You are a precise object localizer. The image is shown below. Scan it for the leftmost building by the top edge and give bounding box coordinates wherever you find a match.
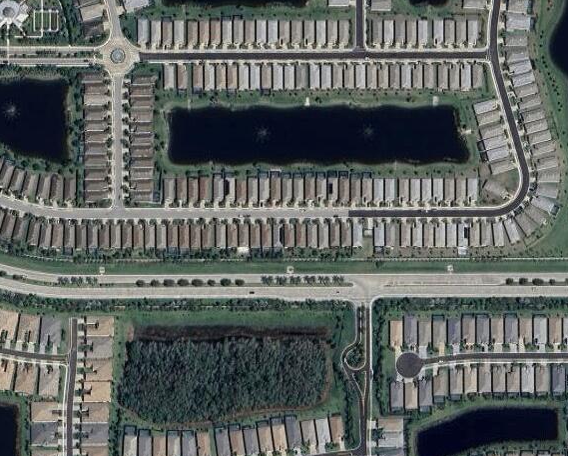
[0,1,26,29]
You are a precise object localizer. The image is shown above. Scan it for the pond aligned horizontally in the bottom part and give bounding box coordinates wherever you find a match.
[417,407,558,456]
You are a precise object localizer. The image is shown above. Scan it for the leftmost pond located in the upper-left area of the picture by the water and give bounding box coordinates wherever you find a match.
[0,80,69,160]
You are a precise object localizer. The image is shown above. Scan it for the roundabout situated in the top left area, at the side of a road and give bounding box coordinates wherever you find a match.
[94,34,142,79]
